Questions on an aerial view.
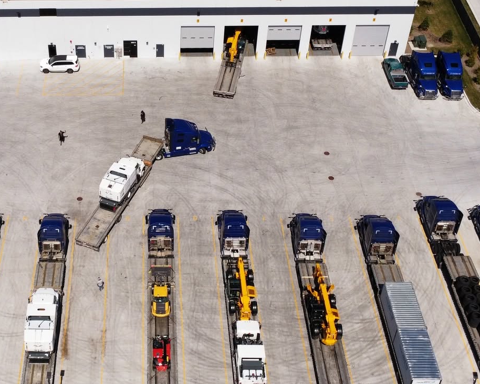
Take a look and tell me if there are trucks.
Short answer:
Yes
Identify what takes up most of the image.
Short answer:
paved ground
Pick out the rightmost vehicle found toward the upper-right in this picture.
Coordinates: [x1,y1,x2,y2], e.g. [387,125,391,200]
[430,46,465,97]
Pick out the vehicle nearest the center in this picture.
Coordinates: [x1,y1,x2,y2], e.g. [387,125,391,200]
[217,209,252,259]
